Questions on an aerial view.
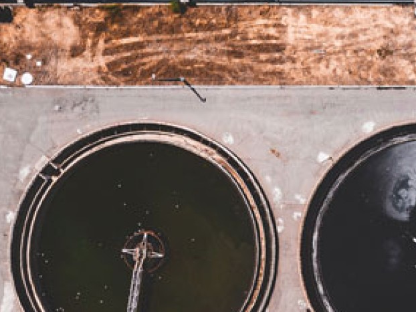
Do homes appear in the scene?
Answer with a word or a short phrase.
No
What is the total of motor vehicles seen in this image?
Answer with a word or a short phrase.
0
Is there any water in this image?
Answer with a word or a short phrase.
Yes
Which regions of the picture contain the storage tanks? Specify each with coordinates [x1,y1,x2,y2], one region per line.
[299,122,416,312]
[10,122,275,312]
